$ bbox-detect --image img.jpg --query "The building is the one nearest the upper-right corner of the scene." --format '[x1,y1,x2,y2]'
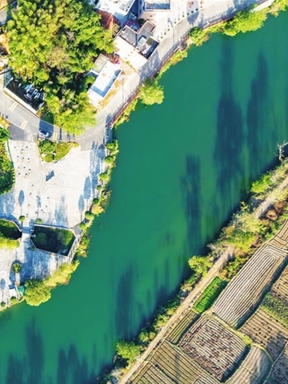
[139,0,172,17]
